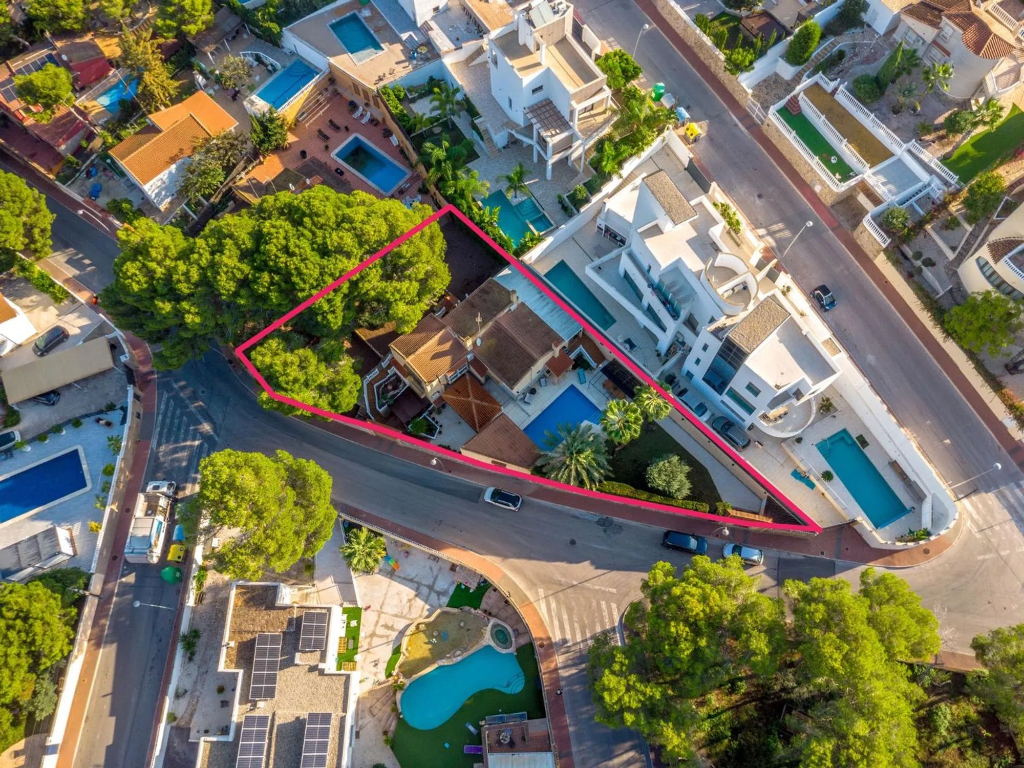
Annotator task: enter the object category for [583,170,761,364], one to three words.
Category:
house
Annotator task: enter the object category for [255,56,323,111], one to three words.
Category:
swimming pool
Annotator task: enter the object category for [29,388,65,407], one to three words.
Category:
car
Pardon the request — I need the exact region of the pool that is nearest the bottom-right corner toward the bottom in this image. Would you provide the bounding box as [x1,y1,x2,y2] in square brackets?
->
[815,427,911,530]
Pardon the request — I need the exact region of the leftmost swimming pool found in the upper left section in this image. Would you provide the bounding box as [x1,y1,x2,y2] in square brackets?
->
[94,70,144,117]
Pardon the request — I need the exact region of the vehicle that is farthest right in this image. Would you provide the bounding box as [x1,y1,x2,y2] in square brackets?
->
[810,284,836,312]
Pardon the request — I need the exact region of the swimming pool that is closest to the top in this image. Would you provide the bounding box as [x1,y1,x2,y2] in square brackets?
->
[325,10,389,67]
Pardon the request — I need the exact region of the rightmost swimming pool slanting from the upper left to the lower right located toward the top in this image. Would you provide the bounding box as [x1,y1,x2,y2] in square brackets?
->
[547,258,617,332]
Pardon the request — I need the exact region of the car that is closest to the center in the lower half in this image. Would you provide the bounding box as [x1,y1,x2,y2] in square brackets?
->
[481,485,526,513]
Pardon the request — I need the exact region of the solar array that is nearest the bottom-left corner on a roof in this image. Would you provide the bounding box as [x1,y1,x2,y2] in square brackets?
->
[235,714,270,768]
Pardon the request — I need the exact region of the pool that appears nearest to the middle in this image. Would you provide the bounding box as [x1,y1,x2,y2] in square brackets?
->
[520,382,608,453]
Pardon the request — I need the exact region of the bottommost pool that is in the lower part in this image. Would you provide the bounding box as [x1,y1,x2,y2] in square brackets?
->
[399,645,526,731]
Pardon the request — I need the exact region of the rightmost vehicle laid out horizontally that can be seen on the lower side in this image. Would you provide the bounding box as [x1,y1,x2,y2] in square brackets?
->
[720,541,766,567]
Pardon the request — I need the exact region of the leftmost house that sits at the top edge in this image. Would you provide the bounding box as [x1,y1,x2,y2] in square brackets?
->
[0,38,120,192]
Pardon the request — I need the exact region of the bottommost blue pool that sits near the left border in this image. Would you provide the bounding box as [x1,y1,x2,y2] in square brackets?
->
[0,442,92,526]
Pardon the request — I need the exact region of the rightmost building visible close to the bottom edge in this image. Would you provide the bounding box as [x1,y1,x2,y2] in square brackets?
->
[483,715,555,768]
